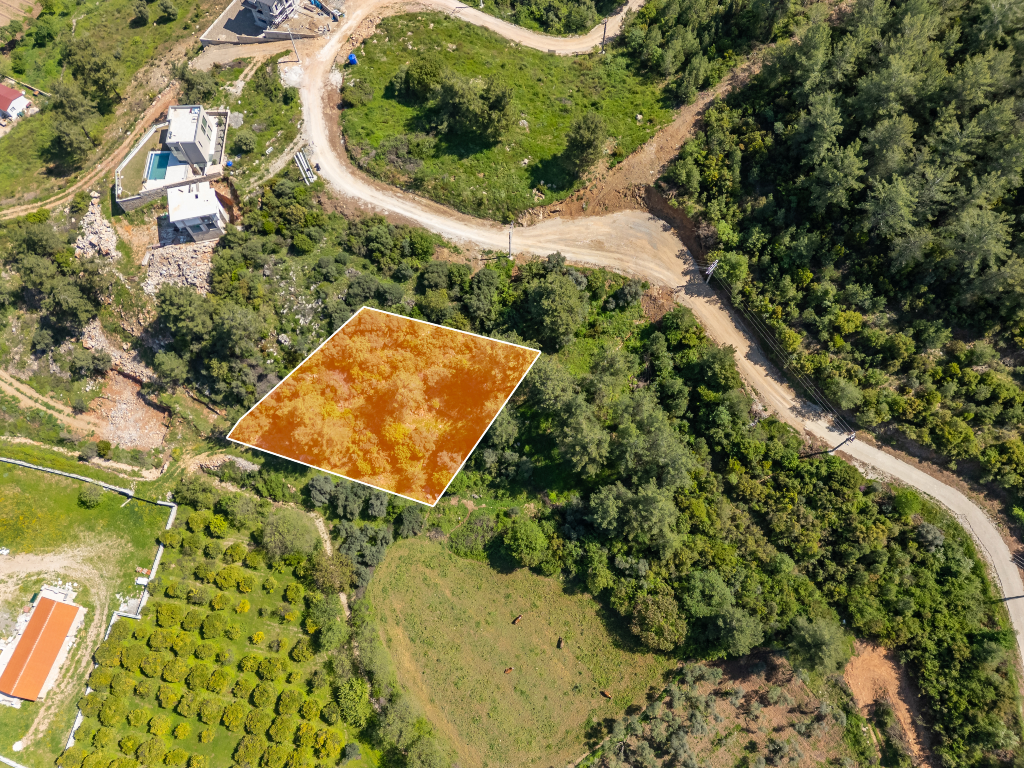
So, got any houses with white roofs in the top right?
No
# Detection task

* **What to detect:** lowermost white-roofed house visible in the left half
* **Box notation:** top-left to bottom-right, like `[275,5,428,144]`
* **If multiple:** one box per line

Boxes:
[168,182,237,241]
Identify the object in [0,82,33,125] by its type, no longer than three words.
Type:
house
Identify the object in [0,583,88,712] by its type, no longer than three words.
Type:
house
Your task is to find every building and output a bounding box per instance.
[0,82,33,125]
[0,583,88,712]
[246,0,291,27]
[168,182,237,241]
[163,106,219,167]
